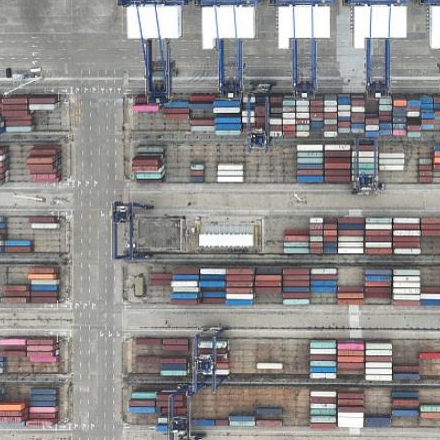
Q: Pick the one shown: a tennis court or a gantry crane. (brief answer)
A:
gantry crane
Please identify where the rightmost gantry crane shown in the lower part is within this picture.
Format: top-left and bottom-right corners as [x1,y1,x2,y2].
[193,315,226,394]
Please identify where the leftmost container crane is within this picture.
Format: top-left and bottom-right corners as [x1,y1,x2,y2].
[111,188,148,261]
